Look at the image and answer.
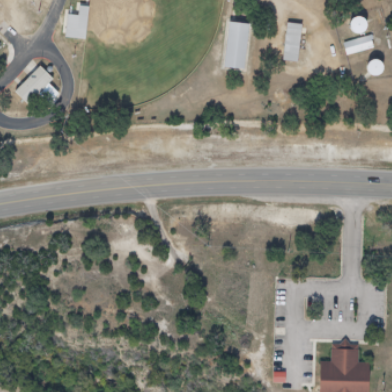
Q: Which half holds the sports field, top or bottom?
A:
top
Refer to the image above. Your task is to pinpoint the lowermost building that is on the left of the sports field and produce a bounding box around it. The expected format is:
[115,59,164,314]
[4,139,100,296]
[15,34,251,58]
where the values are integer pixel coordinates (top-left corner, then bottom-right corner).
[16,66,54,103]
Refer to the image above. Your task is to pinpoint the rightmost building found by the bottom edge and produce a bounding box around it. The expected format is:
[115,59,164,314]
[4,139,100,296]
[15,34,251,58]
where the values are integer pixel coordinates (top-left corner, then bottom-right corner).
[322,344,372,392]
